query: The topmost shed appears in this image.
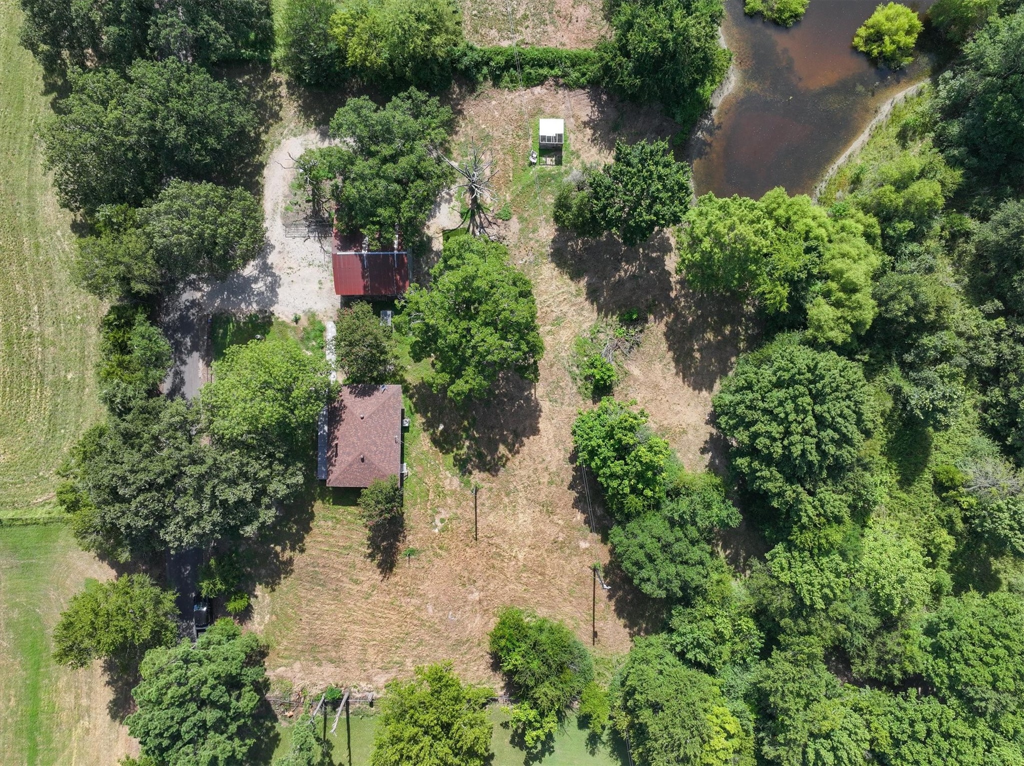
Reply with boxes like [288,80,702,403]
[539,118,563,149]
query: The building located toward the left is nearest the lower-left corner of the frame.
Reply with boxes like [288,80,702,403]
[318,384,411,488]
